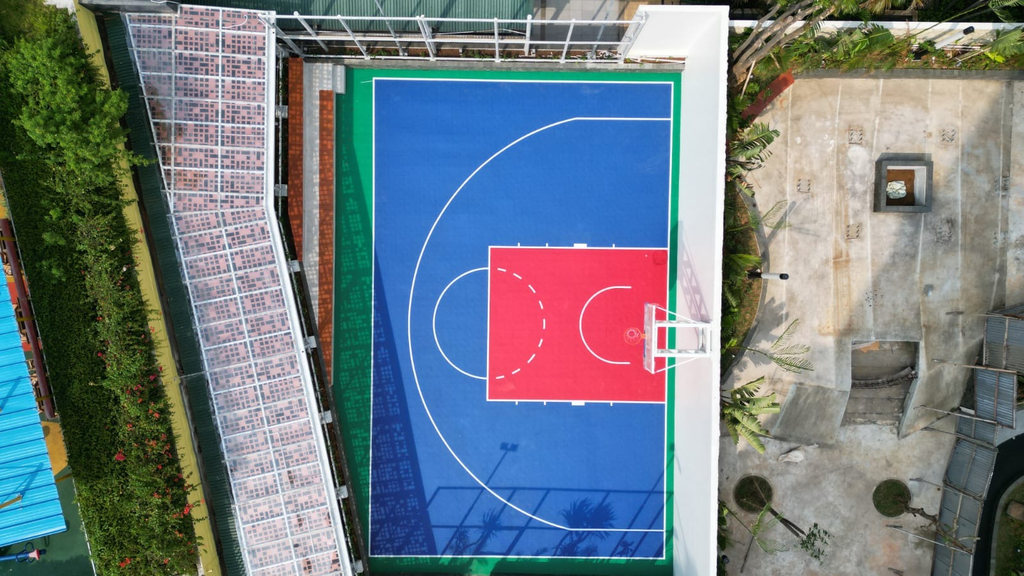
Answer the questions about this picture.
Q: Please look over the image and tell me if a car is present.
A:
No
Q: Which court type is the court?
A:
basketball court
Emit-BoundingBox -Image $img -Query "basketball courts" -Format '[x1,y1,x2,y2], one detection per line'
[334,68,681,574]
